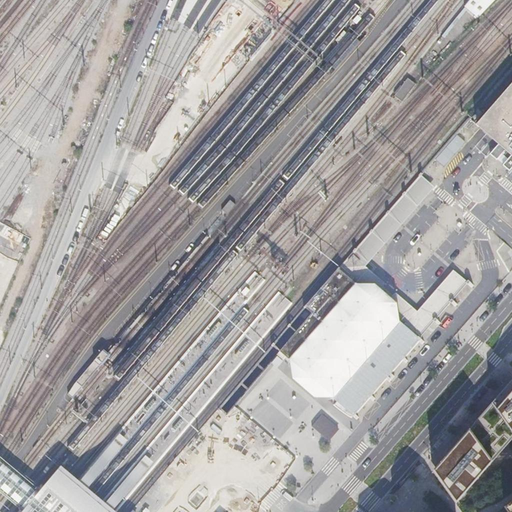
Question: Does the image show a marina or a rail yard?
rail yard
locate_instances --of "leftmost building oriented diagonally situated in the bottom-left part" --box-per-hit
[64,350,115,403]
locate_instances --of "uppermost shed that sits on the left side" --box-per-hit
[167,0,229,34]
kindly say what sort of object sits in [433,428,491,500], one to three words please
building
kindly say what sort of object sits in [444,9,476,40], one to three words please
building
